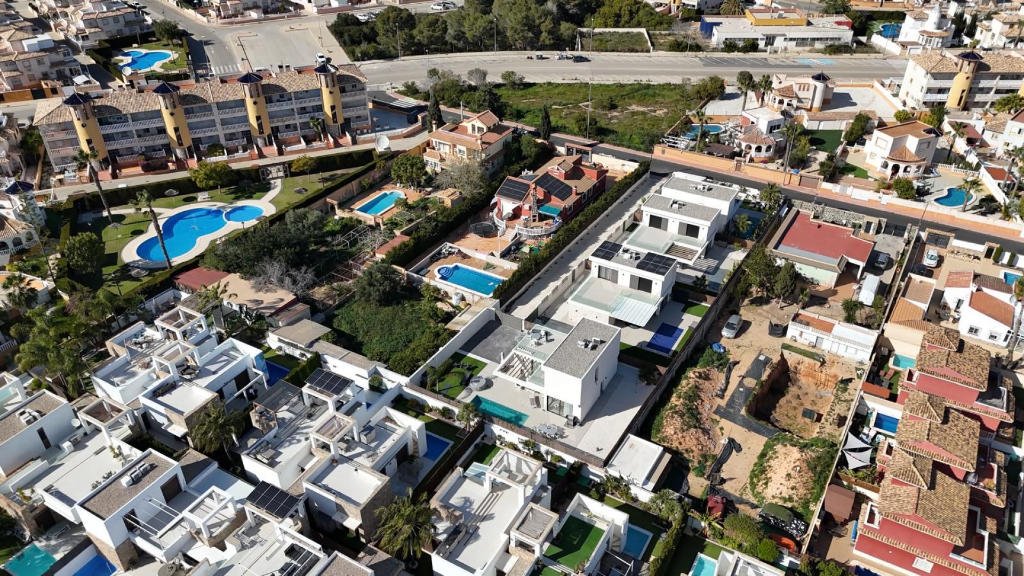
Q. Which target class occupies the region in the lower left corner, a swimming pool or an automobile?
swimming pool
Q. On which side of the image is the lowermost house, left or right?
right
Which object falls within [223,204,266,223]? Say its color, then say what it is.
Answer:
blue swimming pool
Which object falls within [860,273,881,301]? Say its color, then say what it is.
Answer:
white vehicle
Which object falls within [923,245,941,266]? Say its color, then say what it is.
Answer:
white car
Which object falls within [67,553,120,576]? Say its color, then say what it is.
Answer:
blue swimming pool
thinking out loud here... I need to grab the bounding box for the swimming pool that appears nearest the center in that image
[434,262,497,288]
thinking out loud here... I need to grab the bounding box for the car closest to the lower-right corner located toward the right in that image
[758,495,809,535]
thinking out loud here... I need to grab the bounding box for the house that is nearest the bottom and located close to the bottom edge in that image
[716,536,791,576]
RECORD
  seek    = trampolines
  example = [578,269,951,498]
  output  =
[470,216,494,234]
